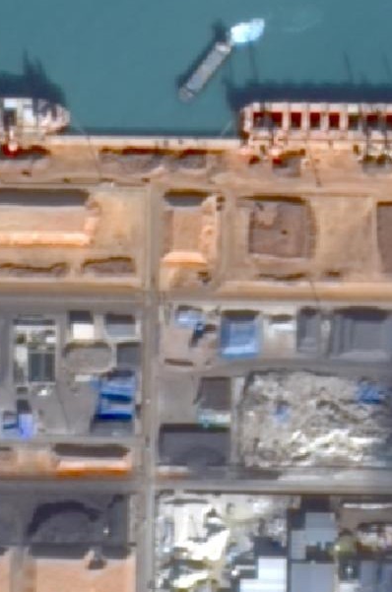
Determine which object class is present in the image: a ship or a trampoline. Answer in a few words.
ship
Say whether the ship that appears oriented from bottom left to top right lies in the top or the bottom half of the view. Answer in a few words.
top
